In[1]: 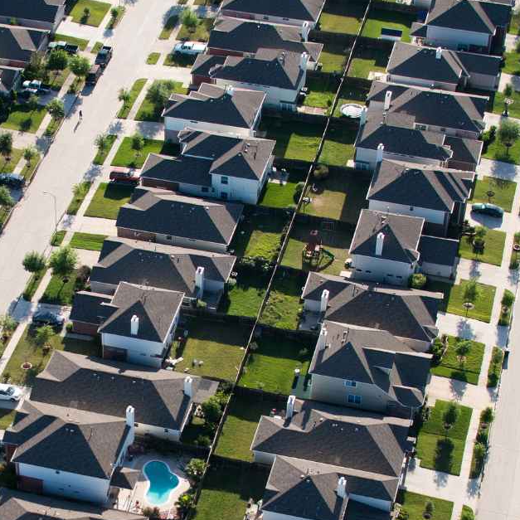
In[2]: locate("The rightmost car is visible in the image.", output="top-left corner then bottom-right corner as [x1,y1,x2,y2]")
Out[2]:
[469,199,500,213]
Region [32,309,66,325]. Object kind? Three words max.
car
